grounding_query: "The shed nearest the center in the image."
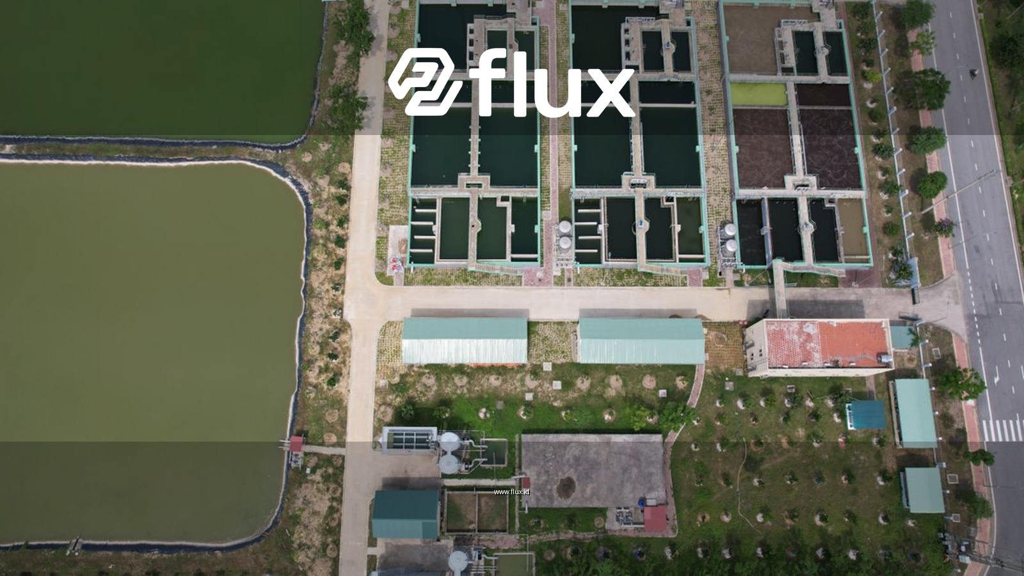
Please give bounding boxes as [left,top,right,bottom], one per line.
[402,318,527,365]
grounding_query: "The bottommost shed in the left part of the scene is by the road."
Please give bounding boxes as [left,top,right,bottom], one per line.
[372,490,440,538]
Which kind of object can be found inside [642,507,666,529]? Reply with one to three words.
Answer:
building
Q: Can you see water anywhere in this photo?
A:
Yes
